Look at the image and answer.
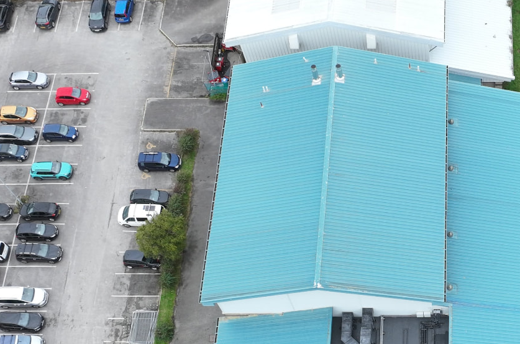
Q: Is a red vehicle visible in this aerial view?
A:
Yes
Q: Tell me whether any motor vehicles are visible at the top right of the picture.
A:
No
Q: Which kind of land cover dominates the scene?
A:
buildings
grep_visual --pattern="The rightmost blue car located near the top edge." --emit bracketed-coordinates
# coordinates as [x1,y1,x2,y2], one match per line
[114,0,136,24]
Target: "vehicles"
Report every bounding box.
[13,243,66,266]
[138,152,183,174]
[0,203,17,223]
[0,310,48,334]
[8,71,52,91]
[0,241,13,262]
[28,160,77,183]
[0,285,50,310]
[0,334,48,344]
[55,87,94,107]
[17,201,66,224]
[114,0,136,24]
[14,222,62,244]
[0,143,31,163]
[128,188,173,208]
[118,203,170,227]
[41,124,83,145]
[36,0,62,31]
[0,125,42,146]
[215,44,233,59]
[87,0,113,34]
[0,0,16,34]
[0,105,42,127]
[120,251,163,271]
